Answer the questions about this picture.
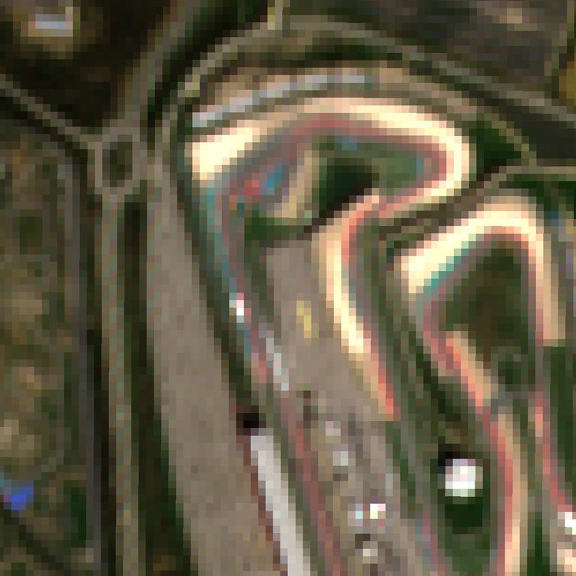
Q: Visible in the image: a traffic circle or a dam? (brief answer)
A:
traffic circle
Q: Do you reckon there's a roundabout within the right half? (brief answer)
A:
No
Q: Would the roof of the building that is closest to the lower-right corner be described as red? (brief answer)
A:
No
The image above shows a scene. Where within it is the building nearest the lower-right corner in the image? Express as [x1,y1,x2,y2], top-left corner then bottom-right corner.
[445,458,478,499]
